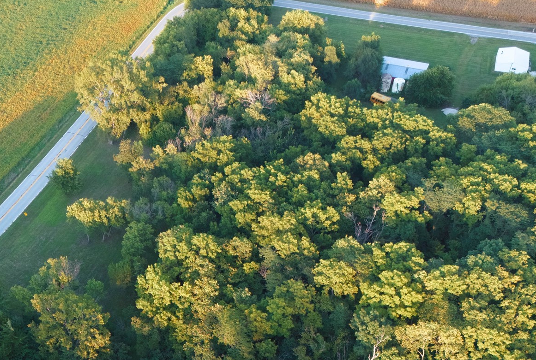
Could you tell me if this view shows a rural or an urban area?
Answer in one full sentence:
The area shown here is rural.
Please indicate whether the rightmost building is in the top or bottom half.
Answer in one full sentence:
The top half of the photo is where the rightmost building is.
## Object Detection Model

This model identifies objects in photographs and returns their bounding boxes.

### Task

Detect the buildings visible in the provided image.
[496,47,532,76]
[375,56,431,88]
